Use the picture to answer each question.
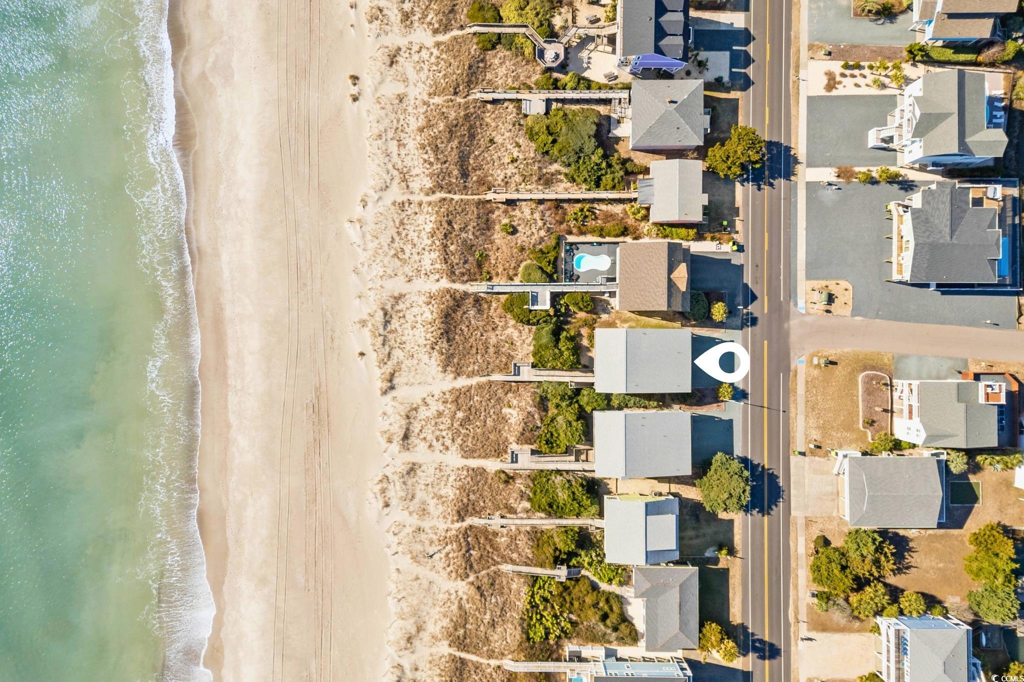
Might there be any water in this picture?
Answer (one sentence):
Yes, water shows up in the scene.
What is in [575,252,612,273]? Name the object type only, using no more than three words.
swimming pool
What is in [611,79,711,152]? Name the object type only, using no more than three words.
house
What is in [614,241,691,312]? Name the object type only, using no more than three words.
house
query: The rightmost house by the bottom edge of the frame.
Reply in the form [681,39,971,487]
[873,610,969,682]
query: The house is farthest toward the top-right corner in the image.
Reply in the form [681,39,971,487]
[904,0,1019,55]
